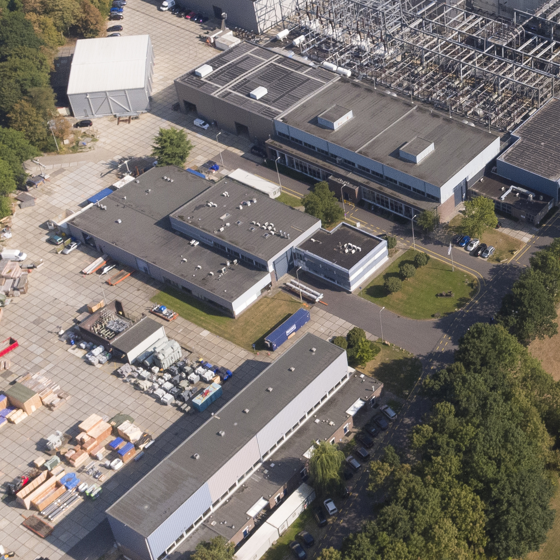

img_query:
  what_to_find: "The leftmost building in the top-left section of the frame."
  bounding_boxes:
[66,35,155,119]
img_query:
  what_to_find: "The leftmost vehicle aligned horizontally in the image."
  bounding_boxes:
[0,248,26,261]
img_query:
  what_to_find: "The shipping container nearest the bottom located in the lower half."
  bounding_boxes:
[191,382,224,414]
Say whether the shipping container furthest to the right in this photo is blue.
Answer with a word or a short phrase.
Yes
